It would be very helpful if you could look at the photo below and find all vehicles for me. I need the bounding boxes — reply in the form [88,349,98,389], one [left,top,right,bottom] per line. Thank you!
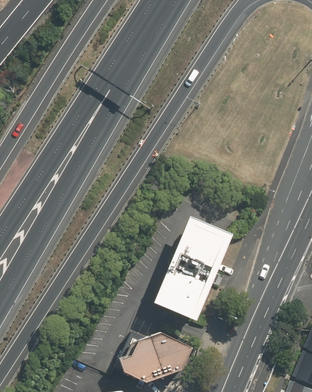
[259,264,270,280]
[184,68,199,86]
[72,362,86,372]
[11,124,24,138]
[148,380,161,392]
[220,266,234,276]
[137,379,144,392]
